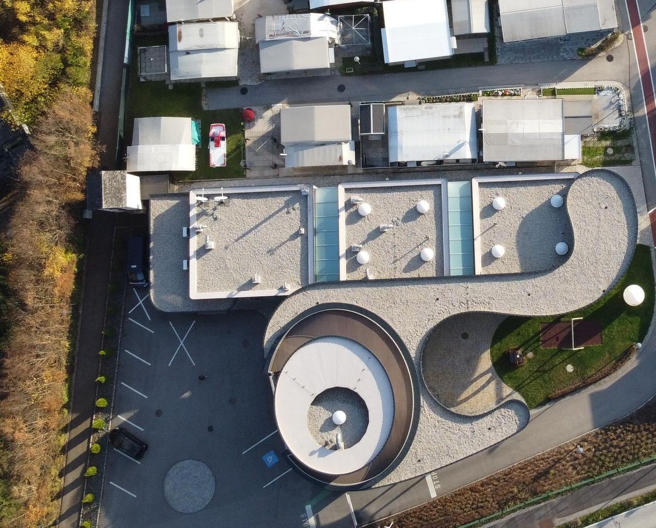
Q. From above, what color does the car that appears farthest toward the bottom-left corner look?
black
